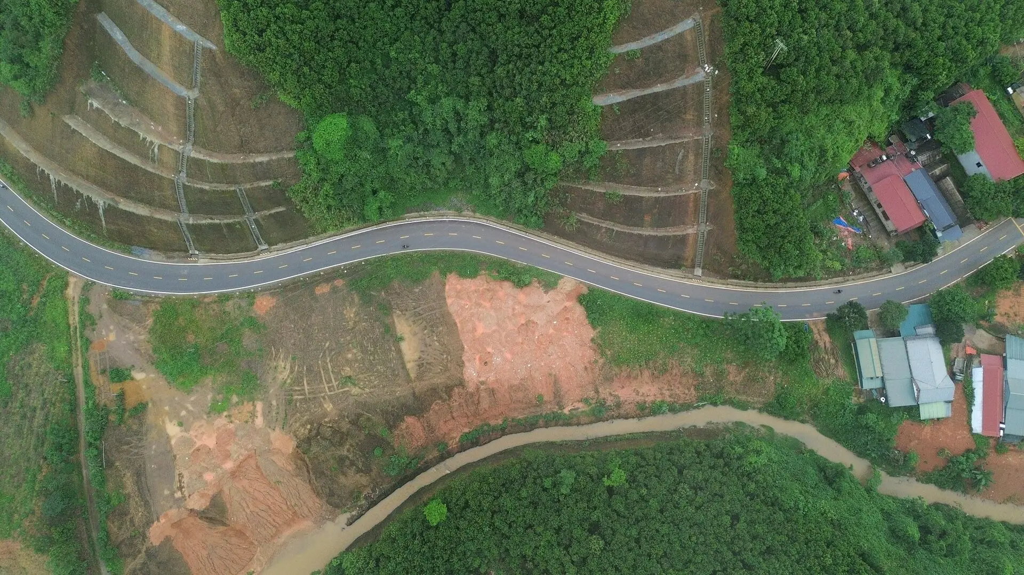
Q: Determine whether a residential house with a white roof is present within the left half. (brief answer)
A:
No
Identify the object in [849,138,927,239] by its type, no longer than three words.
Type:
house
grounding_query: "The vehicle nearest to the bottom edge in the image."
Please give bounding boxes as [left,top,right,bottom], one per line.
[956,356,970,381]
